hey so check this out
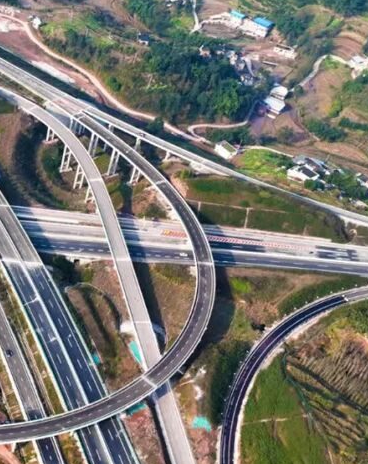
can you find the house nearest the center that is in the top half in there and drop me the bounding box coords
[211,141,240,161]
